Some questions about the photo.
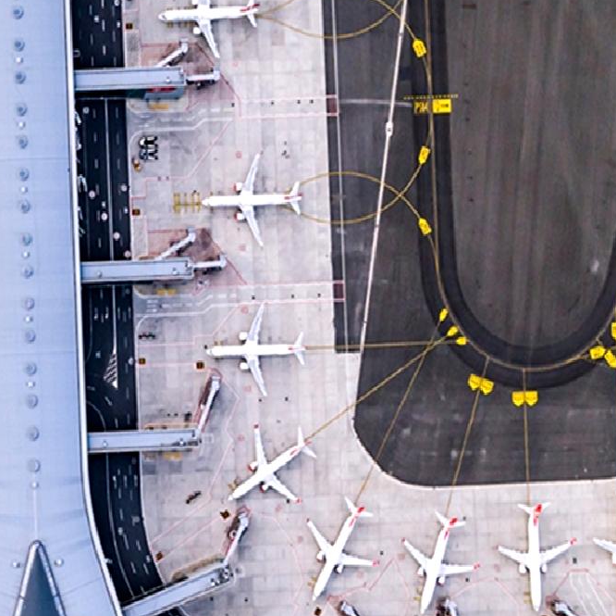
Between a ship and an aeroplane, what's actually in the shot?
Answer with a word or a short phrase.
aeroplane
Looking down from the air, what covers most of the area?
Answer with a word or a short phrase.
paved ground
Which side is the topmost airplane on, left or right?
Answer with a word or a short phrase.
left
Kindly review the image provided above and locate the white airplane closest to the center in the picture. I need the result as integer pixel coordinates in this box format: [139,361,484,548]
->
[206,302,309,398]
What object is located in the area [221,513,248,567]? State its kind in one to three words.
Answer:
jet bridge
